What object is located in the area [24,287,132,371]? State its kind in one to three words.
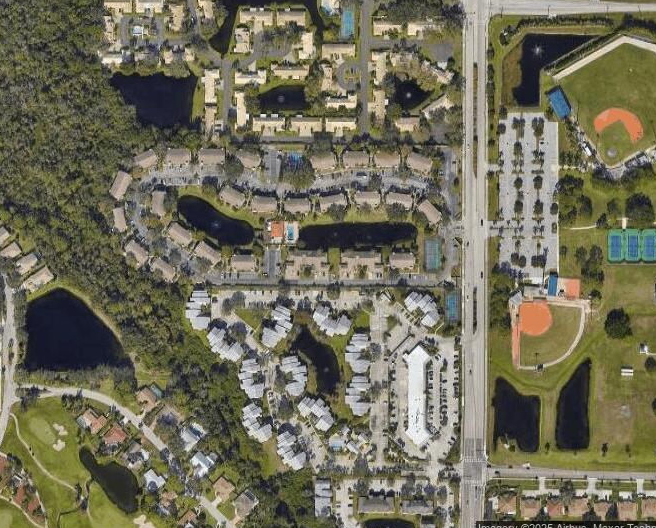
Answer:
pond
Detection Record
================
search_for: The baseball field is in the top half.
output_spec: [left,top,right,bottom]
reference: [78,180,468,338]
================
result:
[553,35,656,168]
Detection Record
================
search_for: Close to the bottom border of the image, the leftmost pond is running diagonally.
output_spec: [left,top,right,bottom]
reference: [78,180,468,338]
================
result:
[79,445,141,512]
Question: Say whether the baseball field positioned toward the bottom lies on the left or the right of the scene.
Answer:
right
